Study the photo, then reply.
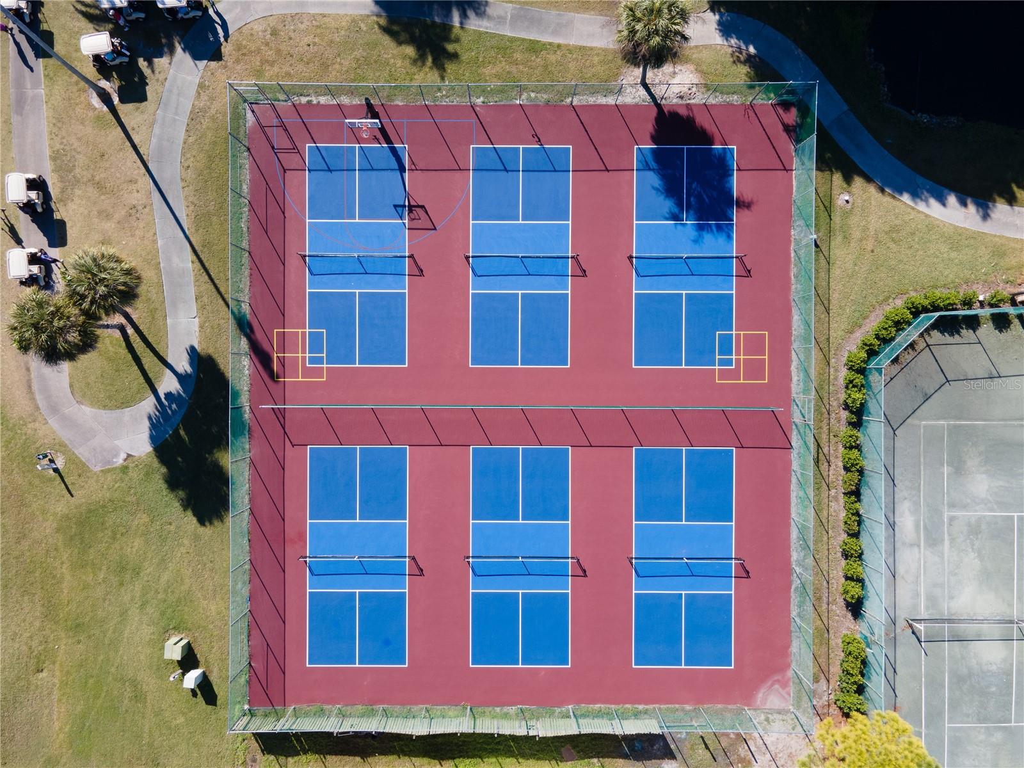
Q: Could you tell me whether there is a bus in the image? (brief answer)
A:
No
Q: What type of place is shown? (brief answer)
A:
sports ground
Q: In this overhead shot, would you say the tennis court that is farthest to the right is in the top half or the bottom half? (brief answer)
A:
bottom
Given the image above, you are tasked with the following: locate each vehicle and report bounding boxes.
[101,0,151,21]
[0,0,37,22]
[161,0,209,22]
[82,30,134,68]
[5,173,47,215]
[6,245,49,289]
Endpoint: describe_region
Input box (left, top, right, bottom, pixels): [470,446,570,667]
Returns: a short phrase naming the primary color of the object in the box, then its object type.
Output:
blue sports court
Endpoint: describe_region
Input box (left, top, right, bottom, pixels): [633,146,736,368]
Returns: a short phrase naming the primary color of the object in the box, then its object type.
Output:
blue sports court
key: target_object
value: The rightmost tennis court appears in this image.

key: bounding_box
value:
[860,309,1024,768]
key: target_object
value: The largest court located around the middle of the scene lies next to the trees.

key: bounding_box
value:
[247,103,796,709]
